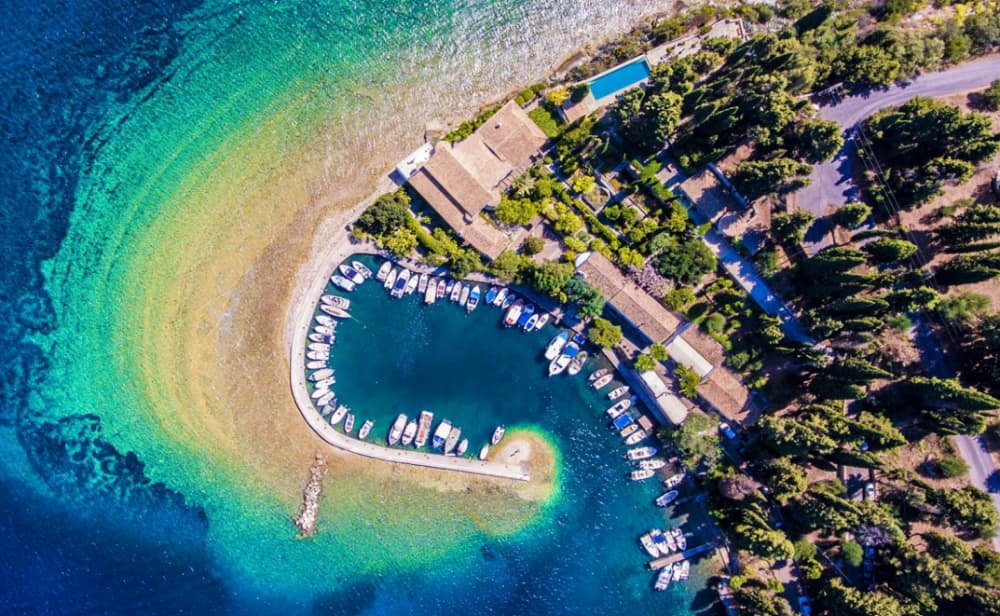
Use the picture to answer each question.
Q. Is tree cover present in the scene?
Yes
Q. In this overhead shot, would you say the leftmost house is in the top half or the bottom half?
top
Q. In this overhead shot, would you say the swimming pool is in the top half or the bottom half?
top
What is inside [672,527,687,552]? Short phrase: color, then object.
white boat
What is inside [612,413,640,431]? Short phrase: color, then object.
blue boat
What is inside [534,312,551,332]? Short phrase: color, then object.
white boat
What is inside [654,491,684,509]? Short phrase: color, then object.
blue boat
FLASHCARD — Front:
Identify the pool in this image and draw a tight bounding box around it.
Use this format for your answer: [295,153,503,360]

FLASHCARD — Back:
[587,56,653,103]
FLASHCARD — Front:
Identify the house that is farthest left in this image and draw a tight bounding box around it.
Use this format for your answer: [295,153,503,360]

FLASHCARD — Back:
[409,100,548,260]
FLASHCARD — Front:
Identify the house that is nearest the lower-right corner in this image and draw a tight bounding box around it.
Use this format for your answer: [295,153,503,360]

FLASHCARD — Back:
[695,369,752,421]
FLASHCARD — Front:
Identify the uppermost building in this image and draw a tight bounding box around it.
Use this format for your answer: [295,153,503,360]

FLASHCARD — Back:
[564,98,592,125]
